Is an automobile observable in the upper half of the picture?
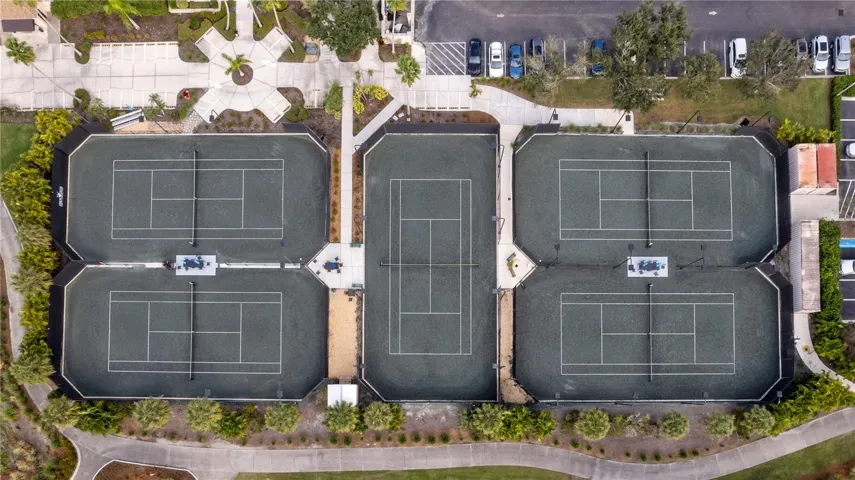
Yes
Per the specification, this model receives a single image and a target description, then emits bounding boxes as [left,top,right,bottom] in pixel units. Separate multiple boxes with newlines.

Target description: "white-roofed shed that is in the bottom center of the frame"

[326,384,359,409]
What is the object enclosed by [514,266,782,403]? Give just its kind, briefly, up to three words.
tennis court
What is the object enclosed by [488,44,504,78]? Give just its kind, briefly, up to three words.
car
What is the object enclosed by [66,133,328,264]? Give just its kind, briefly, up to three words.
tennis court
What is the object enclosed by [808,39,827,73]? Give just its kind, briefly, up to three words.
car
